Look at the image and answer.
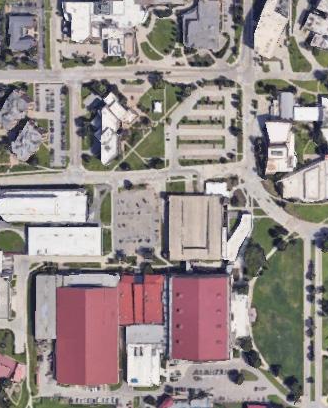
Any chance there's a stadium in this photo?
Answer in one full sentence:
Yes, a stadium appears in the view.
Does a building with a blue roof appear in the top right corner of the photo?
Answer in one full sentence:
No, no building with a blue roof appears in the top right corner of the photo.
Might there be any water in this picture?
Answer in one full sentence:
No, there's no water in this view.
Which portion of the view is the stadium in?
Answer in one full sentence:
You can find the stadium in the center area of the picture.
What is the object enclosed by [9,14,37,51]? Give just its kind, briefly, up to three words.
building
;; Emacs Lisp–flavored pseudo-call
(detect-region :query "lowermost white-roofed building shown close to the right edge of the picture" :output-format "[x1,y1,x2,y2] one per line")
[282,157,328,201]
